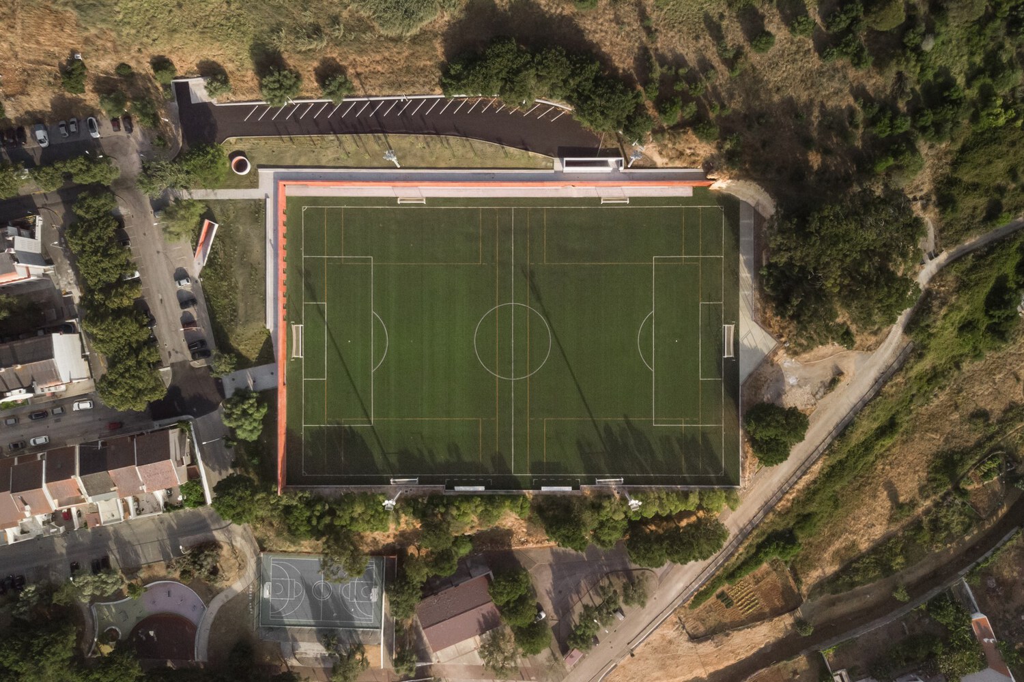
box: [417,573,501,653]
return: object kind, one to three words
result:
building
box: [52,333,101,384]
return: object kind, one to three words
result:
house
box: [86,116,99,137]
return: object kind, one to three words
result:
vehicle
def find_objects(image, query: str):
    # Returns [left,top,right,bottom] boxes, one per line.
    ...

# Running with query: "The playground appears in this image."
[93,582,201,663]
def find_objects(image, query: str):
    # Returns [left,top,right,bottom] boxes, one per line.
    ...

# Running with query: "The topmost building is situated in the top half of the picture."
[564,157,625,171]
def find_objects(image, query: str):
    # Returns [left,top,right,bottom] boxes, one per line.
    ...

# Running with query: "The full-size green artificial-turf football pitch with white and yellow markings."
[286,187,740,490]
